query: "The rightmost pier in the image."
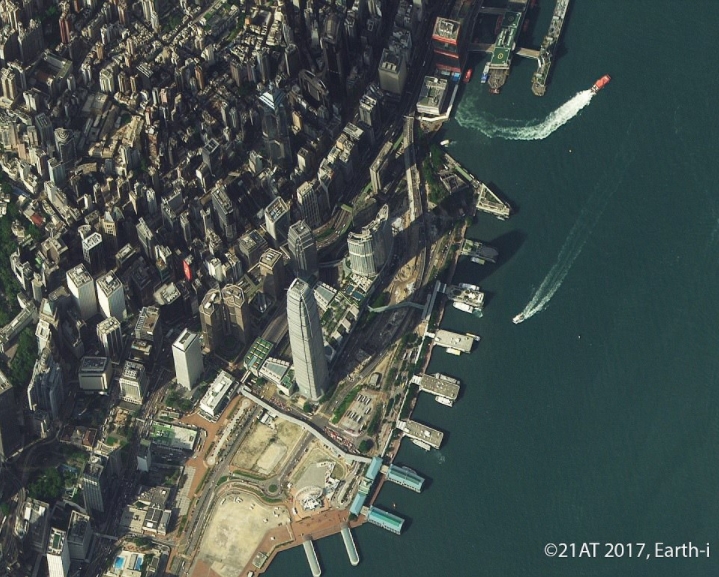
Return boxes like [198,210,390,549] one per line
[532,0,569,95]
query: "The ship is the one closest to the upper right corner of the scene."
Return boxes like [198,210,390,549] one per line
[590,76,610,93]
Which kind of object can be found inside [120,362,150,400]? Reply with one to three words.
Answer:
building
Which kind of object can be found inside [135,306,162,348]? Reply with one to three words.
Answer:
building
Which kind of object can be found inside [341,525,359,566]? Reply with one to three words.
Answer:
pier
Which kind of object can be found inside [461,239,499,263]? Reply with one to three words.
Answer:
pier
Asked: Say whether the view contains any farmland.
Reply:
No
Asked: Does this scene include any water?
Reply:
Yes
